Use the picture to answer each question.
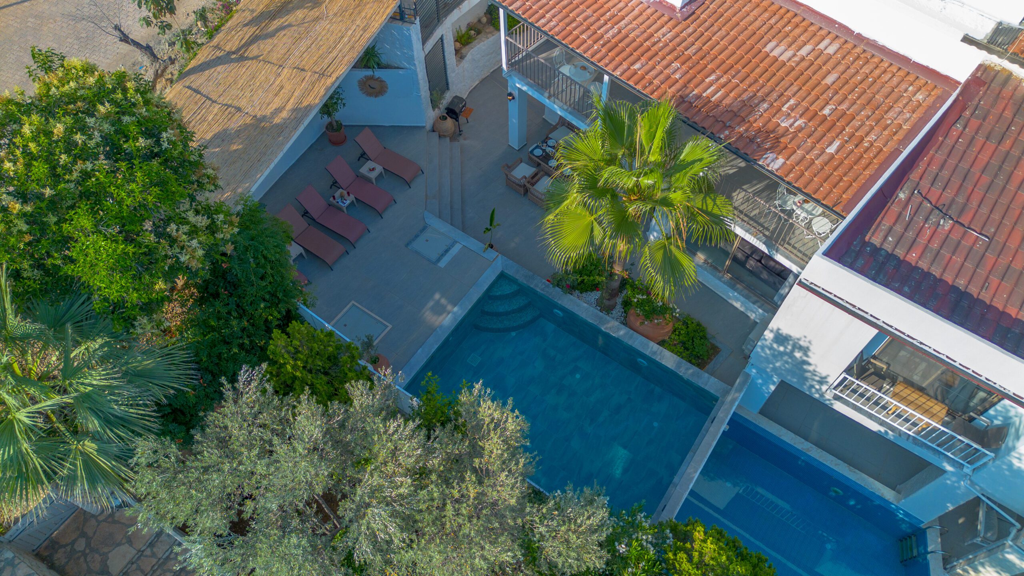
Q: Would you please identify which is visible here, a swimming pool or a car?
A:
swimming pool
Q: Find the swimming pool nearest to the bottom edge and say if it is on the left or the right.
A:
right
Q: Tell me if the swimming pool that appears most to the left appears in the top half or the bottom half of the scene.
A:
bottom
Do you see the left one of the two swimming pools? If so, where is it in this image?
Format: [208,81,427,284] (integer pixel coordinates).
[401,257,733,539]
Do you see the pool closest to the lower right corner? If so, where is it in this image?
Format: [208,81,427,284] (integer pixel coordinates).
[651,409,947,576]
